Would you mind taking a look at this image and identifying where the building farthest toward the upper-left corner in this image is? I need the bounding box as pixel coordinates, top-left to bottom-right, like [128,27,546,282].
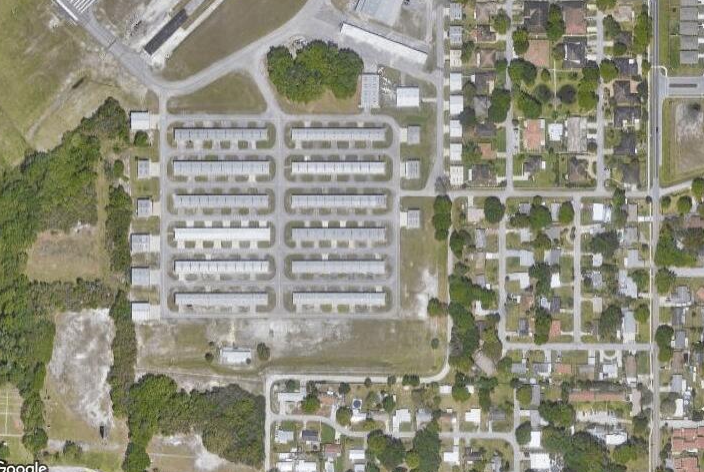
[131,112,149,130]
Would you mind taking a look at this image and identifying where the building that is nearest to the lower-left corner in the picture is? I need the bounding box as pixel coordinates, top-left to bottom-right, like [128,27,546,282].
[132,302,149,321]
